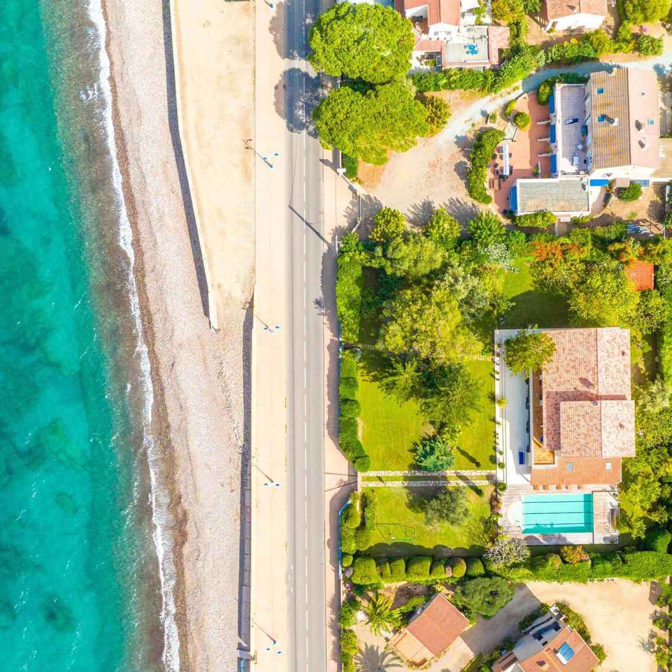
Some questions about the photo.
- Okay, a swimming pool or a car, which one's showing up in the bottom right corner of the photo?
swimming pool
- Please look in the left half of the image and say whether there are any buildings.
No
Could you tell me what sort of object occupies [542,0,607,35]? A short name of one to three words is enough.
house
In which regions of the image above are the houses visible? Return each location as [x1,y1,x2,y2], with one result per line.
[489,601,599,672]
[389,592,469,669]
[526,328,635,485]
[536,66,660,187]
[542,0,607,35]
[404,0,509,72]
